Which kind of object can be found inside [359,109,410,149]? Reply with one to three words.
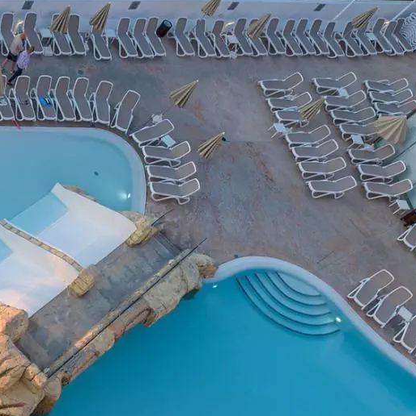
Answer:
umbrella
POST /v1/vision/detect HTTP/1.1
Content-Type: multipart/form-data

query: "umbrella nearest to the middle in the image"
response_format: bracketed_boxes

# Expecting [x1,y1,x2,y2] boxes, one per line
[192,131,225,162]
